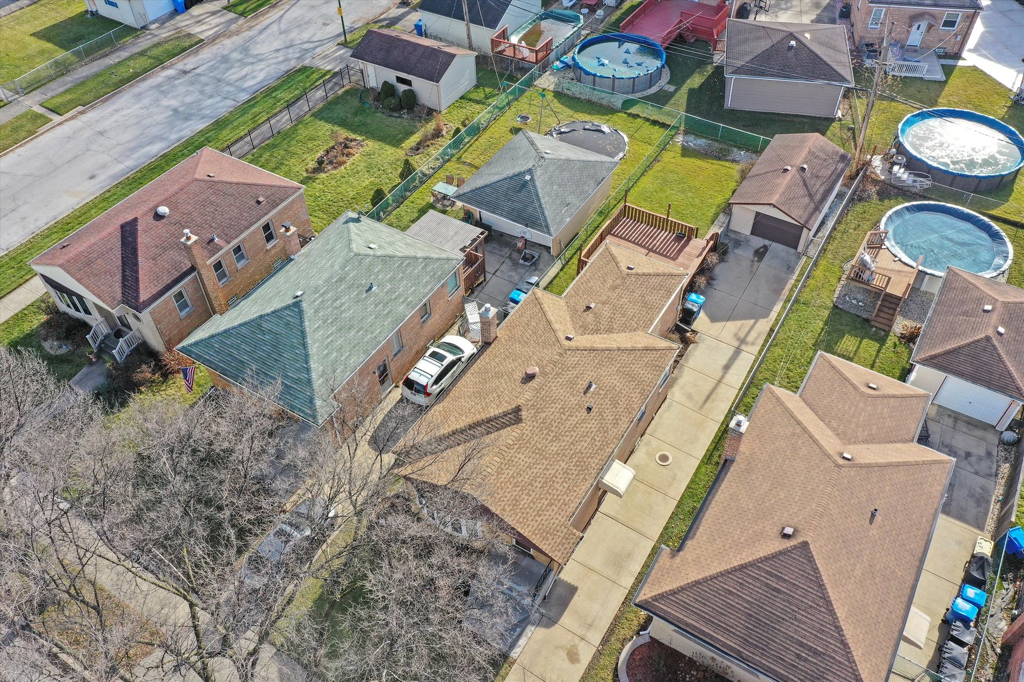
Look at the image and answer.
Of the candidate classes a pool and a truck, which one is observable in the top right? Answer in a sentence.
There is a pool in the top right.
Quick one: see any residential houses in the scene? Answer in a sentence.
Yes, there's a residential house down there.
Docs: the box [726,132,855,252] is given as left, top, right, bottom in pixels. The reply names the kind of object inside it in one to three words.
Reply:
building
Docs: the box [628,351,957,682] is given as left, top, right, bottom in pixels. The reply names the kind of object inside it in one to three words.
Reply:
house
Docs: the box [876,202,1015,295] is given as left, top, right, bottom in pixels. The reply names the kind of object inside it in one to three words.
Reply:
swimming pool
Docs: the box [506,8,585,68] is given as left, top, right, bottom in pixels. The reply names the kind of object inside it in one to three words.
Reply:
swimming pool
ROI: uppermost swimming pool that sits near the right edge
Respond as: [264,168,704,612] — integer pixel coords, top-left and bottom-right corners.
[892,108,1024,193]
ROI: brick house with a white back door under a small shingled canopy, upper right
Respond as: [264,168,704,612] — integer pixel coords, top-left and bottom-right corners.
[851,0,985,85]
